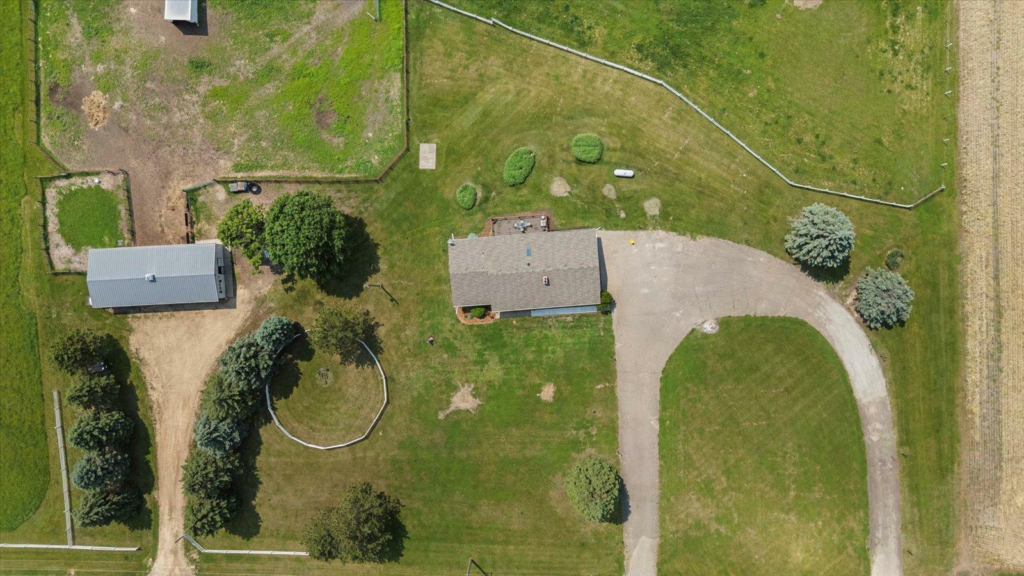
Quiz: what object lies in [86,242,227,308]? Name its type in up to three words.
barn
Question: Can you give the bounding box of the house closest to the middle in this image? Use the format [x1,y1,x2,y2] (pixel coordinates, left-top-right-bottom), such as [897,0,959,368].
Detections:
[447,227,602,314]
